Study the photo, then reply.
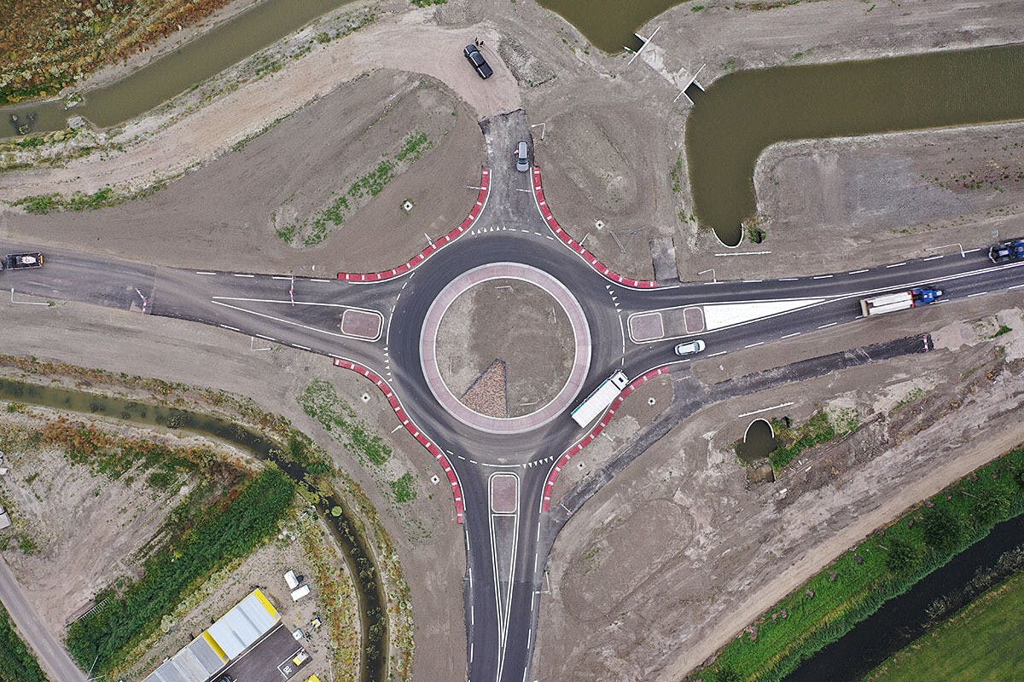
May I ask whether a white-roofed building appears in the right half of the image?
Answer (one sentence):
No, I can find no white-roofed building in the right half of the image.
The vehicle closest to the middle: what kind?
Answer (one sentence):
Specifically, the vehicle closest to the middle is a truck.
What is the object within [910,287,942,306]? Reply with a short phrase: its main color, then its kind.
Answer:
blue work vehicle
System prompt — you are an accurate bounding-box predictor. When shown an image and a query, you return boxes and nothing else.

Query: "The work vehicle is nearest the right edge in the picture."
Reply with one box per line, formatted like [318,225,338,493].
[988,242,1024,265]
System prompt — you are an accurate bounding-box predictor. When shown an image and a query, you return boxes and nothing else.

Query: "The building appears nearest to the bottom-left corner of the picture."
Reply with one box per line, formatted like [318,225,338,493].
[144,628,230,682]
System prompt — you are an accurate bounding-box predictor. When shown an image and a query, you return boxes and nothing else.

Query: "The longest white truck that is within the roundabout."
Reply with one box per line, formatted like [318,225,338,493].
[569,368,630,429]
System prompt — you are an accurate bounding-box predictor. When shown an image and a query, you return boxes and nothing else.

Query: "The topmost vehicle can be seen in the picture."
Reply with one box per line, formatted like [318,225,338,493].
[466,43,493,80]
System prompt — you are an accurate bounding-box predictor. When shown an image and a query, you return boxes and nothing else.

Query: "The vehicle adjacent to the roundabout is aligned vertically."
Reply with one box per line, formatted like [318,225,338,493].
[516,142,529,171]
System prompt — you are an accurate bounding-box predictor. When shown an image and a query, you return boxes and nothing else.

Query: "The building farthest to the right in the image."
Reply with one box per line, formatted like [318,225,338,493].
[207,588,282,660]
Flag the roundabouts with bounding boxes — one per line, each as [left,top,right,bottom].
[328,167,690,523]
